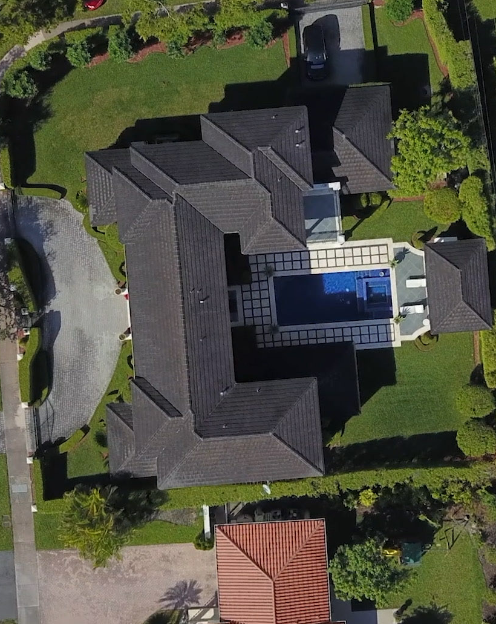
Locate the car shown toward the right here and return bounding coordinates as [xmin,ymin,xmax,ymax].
[301,20,331,83]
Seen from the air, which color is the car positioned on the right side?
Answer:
black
